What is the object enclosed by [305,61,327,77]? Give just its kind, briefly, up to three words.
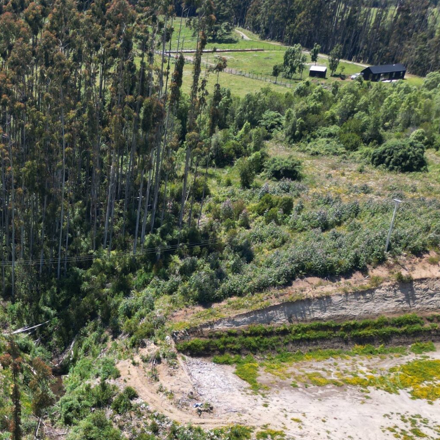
shed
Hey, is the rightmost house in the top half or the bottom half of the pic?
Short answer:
top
